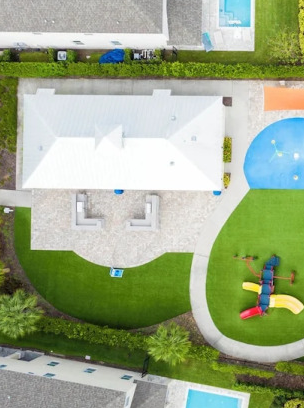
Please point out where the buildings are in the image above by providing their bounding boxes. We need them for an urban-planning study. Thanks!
[21,91,226,192]
[0,0,206,54]
[0,334,170,408]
